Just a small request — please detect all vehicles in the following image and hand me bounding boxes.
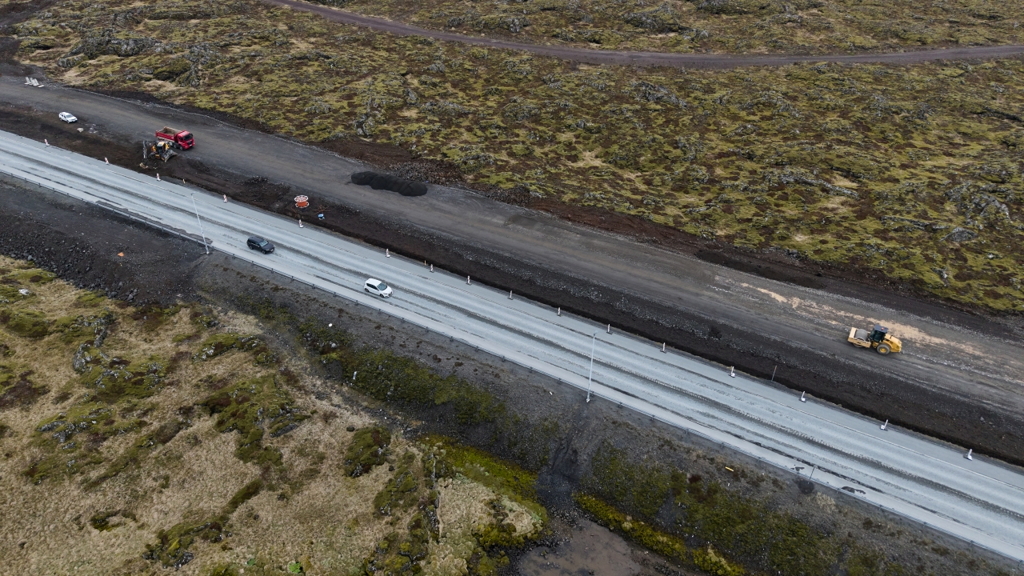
[849,324,904,355]
[363,278,392,297]
[154,128,195,150]
[245,235,276,254]
[58,111,77,123]
[139,140,176,166]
